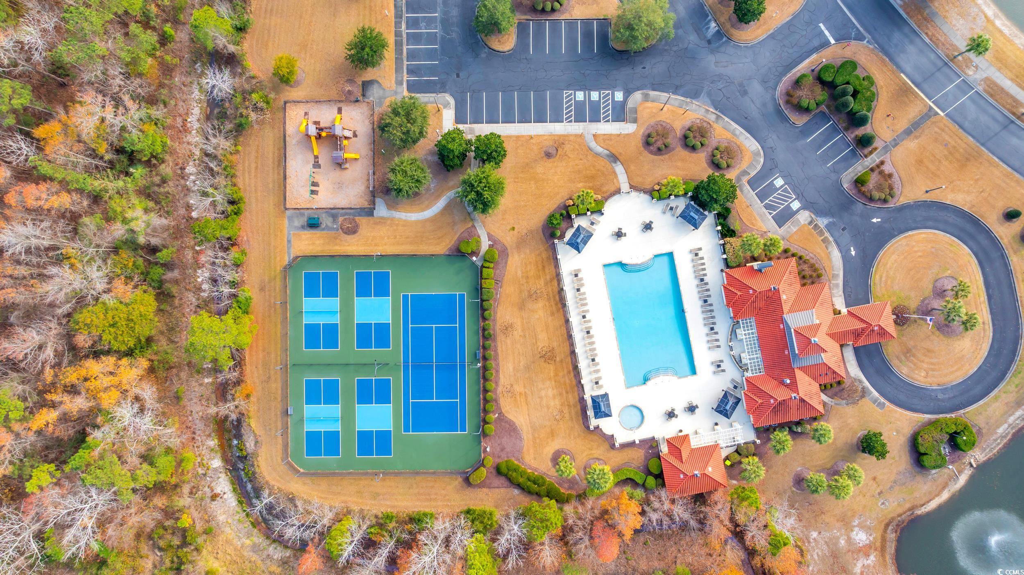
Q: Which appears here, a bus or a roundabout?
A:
roundabout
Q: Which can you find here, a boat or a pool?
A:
pool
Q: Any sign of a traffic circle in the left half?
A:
No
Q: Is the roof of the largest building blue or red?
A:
red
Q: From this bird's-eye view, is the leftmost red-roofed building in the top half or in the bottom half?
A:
bottom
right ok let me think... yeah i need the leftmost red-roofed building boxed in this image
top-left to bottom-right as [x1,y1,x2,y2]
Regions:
[660,432,729,499]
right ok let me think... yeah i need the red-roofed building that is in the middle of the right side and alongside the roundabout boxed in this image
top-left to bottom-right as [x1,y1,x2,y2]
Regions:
[718,257,897,428]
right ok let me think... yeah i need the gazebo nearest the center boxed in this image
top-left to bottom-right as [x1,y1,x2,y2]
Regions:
[565,224,593,254]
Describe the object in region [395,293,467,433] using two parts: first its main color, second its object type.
blue tennis court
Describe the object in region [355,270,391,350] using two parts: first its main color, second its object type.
blue sports court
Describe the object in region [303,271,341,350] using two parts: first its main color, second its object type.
blue sports court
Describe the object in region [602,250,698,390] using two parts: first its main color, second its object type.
blue swimming pool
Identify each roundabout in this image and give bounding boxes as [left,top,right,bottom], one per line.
[841,199,1022,416]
